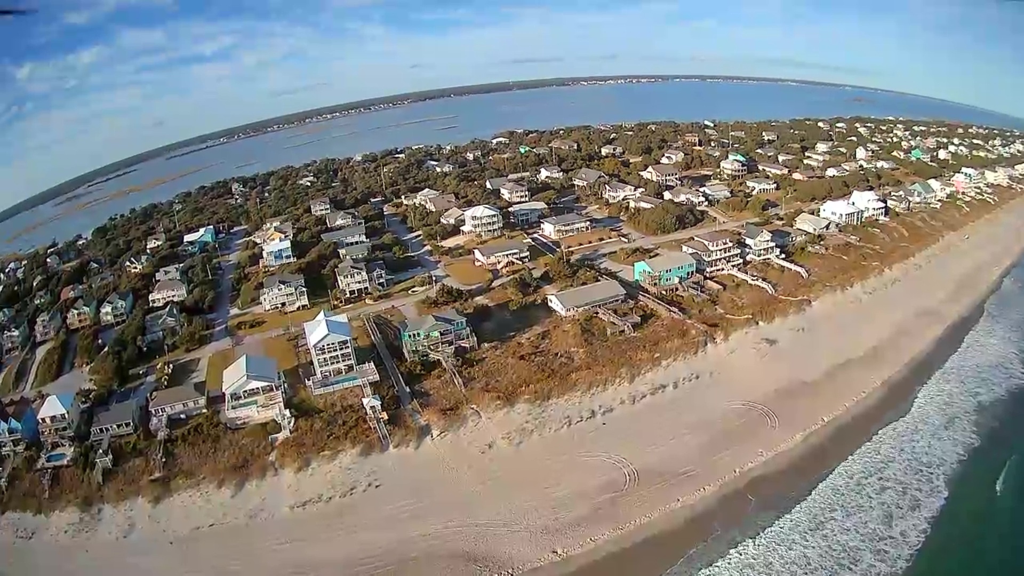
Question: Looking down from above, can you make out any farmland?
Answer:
No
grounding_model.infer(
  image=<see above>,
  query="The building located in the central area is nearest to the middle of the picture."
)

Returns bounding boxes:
[476,236,532,272]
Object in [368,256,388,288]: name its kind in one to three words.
house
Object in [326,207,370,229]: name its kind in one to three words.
house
